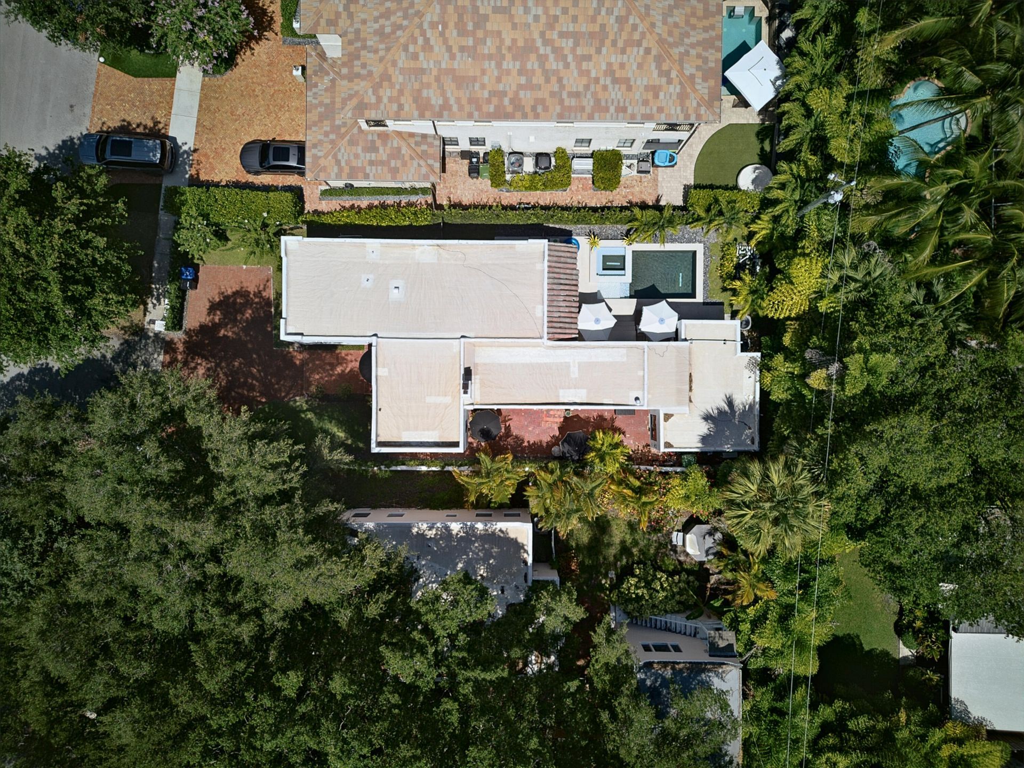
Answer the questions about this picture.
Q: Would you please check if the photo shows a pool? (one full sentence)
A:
Yes, a pool can be made out from above.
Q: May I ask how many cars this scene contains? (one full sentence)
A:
In total, 2 cars can be seen.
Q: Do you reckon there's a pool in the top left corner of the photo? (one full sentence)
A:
No, no pool appears in the top left corner of the photo.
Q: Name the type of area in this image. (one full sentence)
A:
The area seen from above is a residential area.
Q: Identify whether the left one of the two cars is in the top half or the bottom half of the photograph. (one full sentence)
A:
You can find the left one of the two cars in the top half.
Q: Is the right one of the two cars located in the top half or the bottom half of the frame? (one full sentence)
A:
The right one of the two cars is in the top half of the image.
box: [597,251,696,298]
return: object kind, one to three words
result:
swimming pool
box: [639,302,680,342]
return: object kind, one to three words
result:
umbrella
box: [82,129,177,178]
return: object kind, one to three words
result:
car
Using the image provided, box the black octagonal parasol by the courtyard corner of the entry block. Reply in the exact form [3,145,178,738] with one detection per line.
[470,410,501,440]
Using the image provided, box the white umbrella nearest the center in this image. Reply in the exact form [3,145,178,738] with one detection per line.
[578,302,616,342]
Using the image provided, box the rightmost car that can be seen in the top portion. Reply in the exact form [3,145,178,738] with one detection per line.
[241,134,305,179]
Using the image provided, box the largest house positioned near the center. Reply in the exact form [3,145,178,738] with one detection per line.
[281,235,760,452]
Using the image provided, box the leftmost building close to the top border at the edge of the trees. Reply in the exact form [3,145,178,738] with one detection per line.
[297,0,722,188]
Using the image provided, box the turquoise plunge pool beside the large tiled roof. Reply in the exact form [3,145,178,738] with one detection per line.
[722,8,761,96]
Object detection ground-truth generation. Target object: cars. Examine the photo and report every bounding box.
[82,129,177,178]
[241,134,305,179]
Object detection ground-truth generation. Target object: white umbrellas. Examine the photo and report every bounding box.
[639,302,680,342]
[578,302,616,342]
[723,40,793,111]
